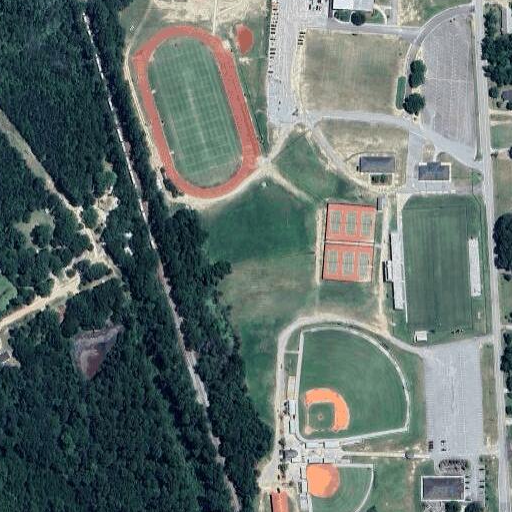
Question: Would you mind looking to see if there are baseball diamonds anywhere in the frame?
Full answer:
Yes, there's a baseball diamond here.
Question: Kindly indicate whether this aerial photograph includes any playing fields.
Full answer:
Yes, a playing field is visible in the scene.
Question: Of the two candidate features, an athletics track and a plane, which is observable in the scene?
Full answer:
This aerial view contains an athletics track.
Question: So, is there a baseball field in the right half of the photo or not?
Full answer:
Yes, you'll find a baseball field in the right half of the photo.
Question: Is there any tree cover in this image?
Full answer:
Yes, tree cover shows up in the scene.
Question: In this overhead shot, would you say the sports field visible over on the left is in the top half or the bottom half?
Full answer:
The sports field visible over on the left is in the top half of the image.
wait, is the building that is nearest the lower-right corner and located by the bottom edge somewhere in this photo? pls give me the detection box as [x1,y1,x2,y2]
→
[421,475,465,501]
